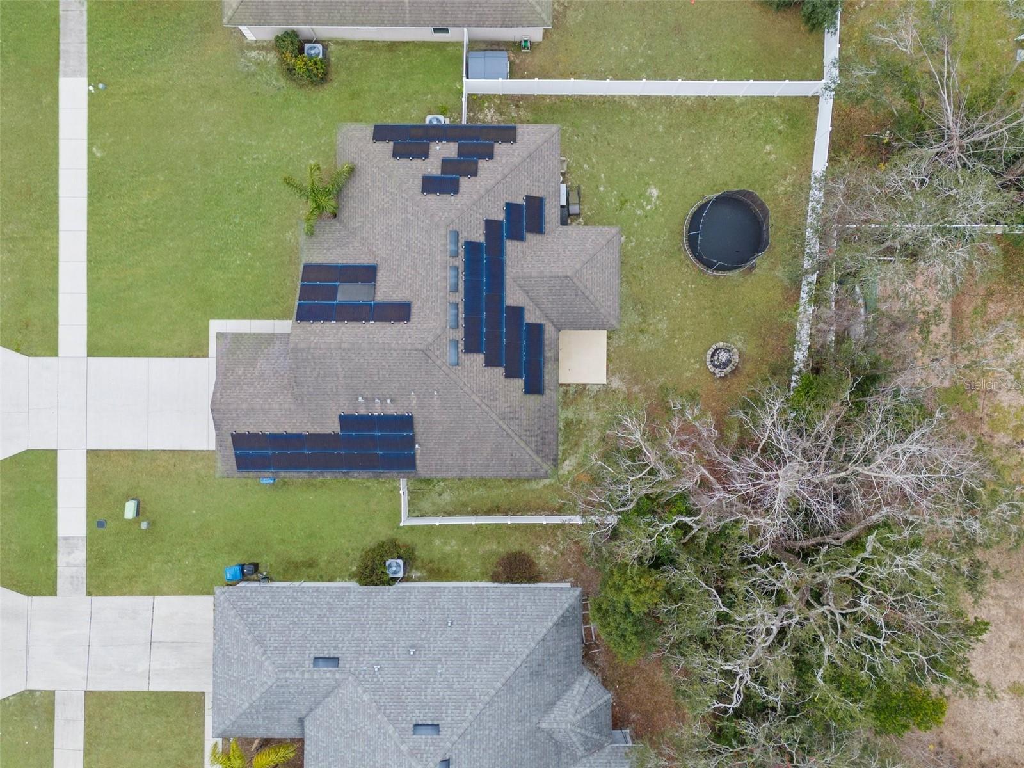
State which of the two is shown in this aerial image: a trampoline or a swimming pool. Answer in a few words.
trampoline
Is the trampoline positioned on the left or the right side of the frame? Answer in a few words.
right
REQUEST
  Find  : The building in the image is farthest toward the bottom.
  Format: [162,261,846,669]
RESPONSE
[213,580,643,768]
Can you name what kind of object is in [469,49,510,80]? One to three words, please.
shed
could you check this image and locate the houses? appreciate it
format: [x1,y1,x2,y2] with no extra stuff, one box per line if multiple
[223,0,552,42]
[213,580,643,768]
[210,124,621,478]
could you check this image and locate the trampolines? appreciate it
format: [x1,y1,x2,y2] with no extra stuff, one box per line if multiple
[679,189,770,279]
